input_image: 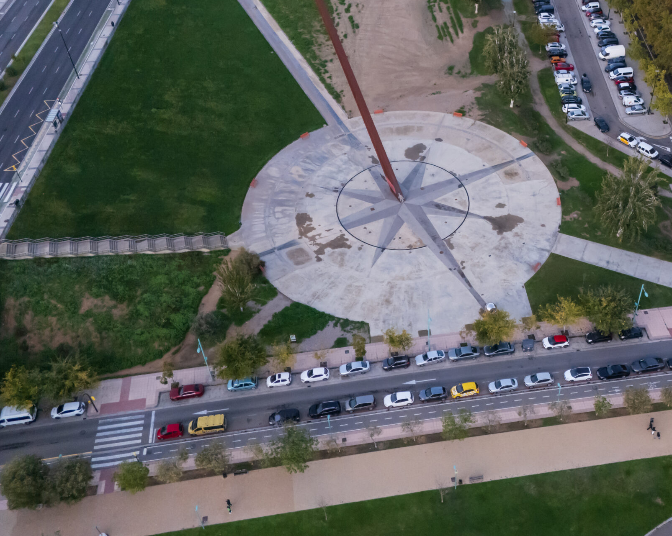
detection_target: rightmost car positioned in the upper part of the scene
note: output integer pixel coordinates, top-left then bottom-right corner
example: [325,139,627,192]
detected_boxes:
[656,154,672,169]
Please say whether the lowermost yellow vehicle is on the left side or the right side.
left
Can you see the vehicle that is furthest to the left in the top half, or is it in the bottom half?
bottom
